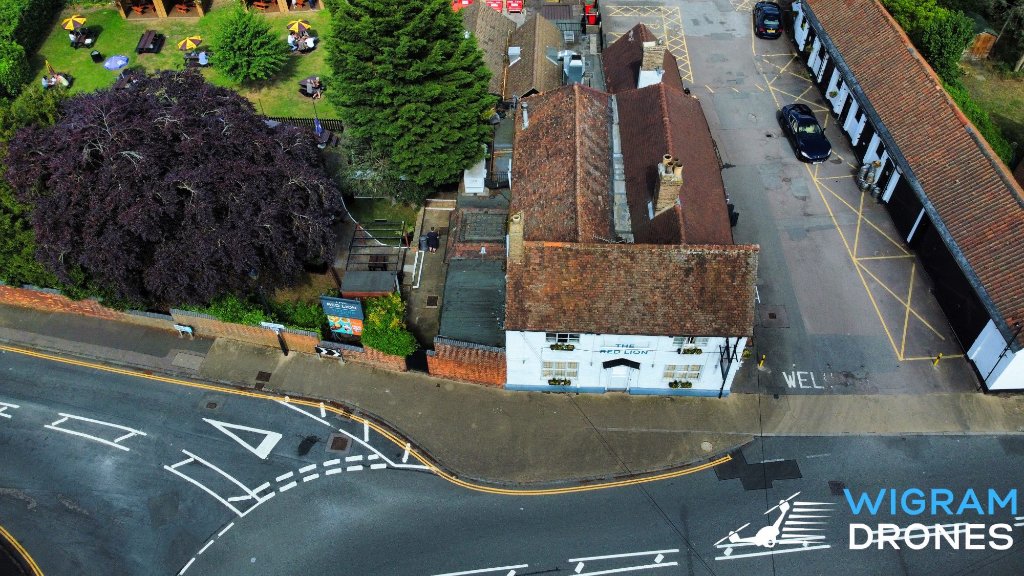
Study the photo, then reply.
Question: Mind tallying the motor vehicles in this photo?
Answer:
two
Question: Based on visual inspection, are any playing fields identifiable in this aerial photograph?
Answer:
No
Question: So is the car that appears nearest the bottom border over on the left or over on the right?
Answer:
right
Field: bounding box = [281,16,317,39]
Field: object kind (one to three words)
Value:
umbrella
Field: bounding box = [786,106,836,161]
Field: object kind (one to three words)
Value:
car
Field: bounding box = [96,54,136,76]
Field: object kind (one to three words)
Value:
umbrella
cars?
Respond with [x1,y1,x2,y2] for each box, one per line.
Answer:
[756,3,785,37]
[786,106,836,161]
